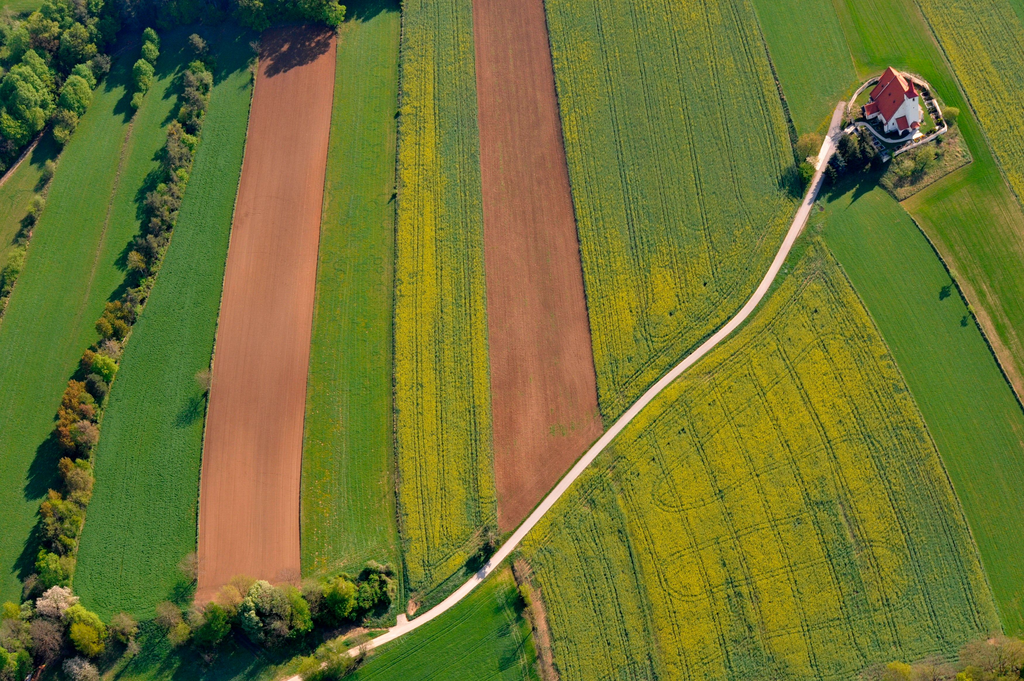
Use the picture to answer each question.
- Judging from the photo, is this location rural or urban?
rural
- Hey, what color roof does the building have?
red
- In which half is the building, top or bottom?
top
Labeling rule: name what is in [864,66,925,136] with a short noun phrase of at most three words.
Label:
building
